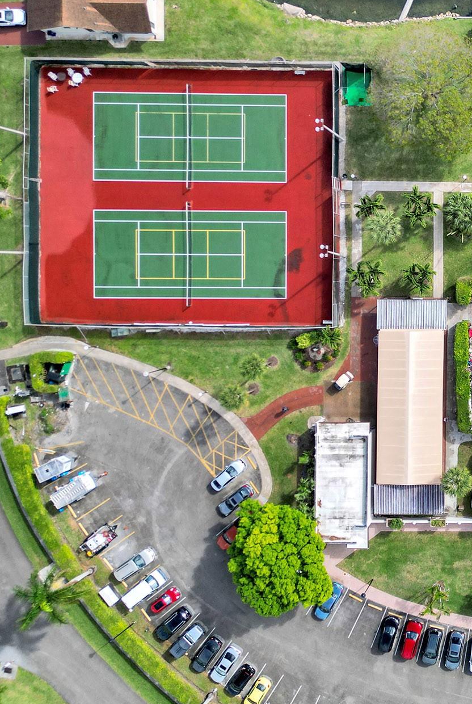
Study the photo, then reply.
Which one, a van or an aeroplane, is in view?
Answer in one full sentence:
It is a van that can be seen here.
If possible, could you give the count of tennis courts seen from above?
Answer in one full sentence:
The photo contains 2 tennis courts.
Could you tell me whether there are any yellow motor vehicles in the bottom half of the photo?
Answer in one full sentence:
Yes, a yellow motor vehicle can be seen in the bottom half of the photo.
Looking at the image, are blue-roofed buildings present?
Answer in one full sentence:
No, no blue-roofed building is visible in the scene.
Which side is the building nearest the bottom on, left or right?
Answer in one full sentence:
You can find the building nearest the bottom on the right side of the picture.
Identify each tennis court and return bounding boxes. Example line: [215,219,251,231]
[92,202,286,305]
[92,83,286,190]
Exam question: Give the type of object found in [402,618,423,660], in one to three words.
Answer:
car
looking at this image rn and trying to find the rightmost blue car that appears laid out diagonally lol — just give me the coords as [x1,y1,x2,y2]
[314,580,345,621]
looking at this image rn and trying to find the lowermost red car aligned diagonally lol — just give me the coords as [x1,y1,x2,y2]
[149,586,183,615]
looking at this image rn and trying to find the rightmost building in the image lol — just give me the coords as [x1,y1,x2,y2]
[373,299,447,514]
